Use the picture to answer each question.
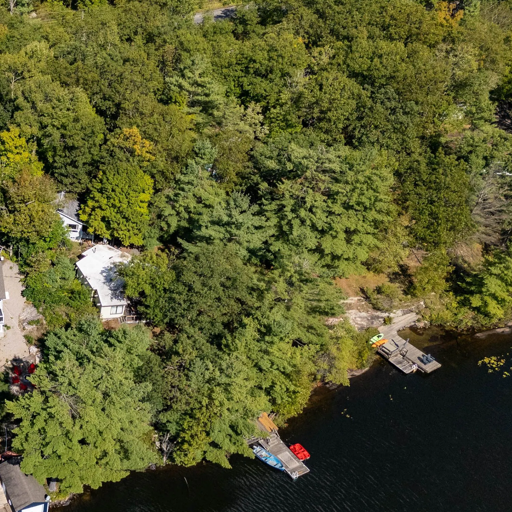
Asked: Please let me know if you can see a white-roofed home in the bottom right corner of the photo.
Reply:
No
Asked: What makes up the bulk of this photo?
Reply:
trees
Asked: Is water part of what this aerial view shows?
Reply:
Yes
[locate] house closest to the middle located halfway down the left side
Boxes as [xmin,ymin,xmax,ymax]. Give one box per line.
[78,244,134,324]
